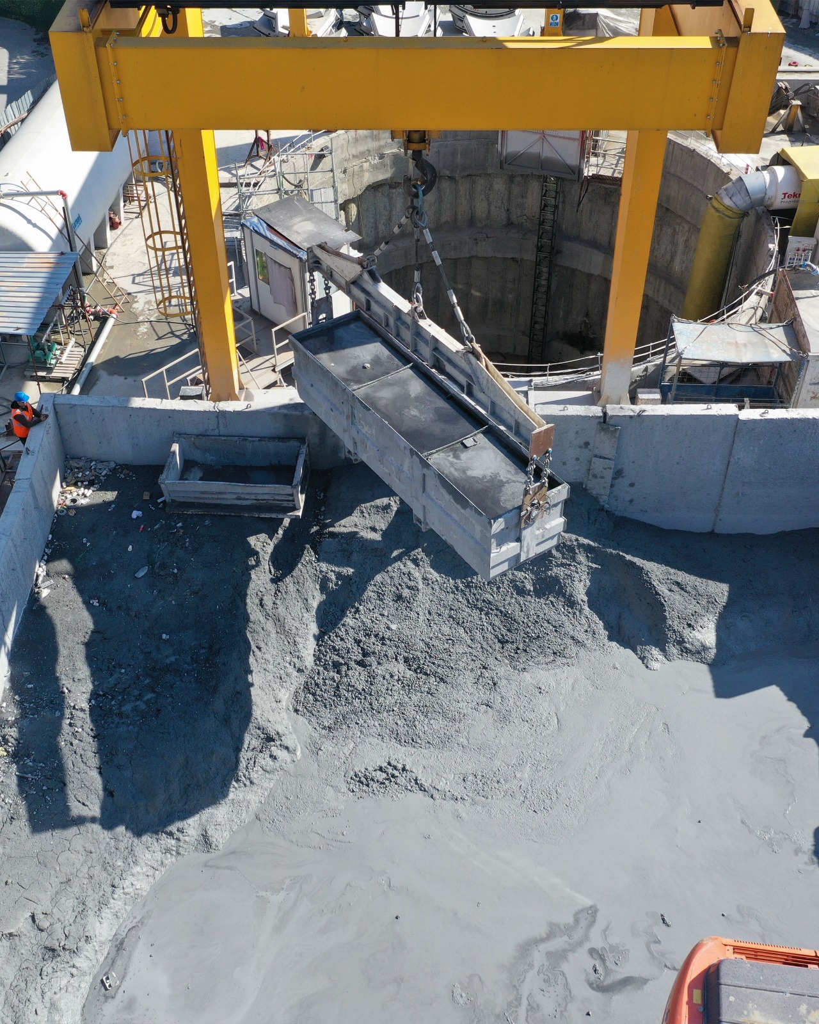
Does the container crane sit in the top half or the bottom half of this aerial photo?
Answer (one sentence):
The top half of the photo is where the container crane is.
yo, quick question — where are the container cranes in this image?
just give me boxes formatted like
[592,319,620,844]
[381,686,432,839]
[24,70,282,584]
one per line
[44,0,793,416]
